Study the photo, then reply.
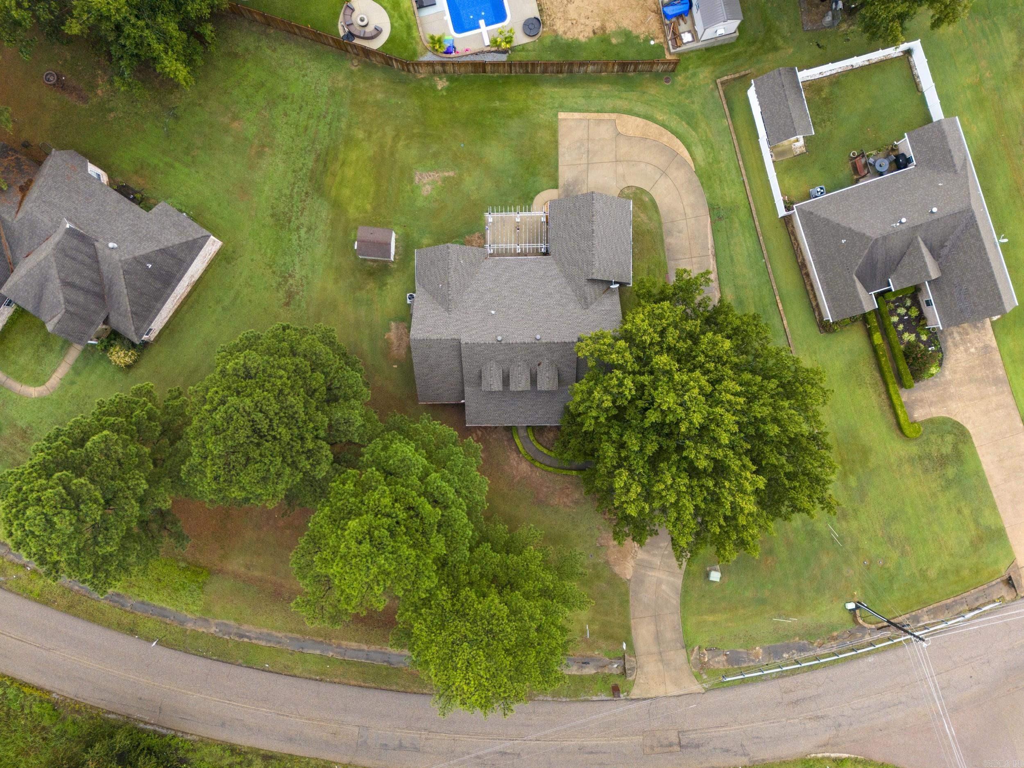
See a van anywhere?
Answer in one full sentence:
No, I find no van anywhere in the image.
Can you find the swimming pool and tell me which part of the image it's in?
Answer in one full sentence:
The swimming pool is located in the top region of the scene.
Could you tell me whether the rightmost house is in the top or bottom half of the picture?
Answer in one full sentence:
You can find the rightmost house in the top half.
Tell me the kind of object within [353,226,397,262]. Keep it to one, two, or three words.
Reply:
shed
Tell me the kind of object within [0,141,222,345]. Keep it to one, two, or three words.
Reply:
house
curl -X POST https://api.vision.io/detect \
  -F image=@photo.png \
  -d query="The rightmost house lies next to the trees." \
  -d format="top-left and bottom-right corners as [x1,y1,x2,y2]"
[787,116,1019,329]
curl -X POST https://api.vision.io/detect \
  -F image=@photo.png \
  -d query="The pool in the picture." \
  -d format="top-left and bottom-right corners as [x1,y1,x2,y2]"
[443,0,512,38]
